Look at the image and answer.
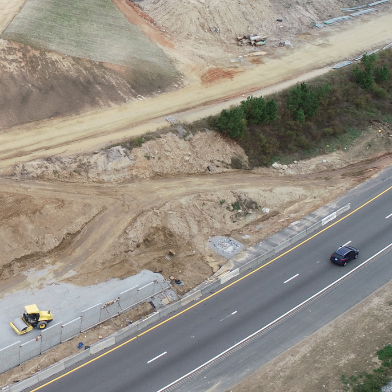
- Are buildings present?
No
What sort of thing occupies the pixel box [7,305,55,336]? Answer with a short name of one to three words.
work vehicle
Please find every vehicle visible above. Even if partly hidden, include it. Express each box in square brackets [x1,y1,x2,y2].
[7,305,55,336]
[331,247,361,267]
